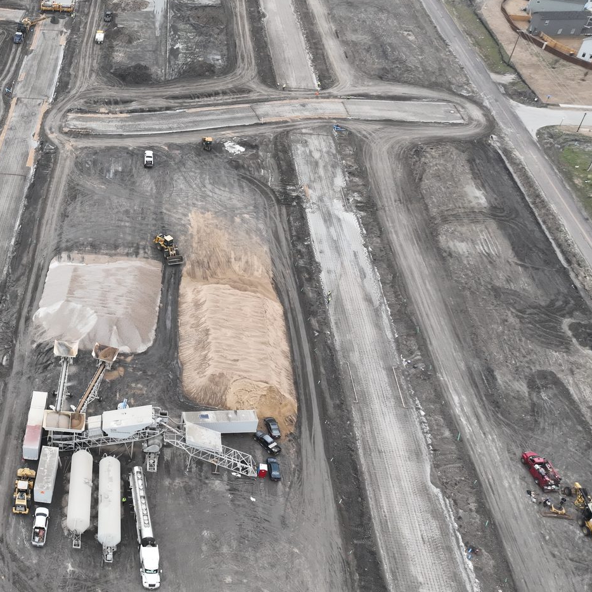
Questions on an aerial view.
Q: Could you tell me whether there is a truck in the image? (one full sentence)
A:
Yes, a truck appears in the view.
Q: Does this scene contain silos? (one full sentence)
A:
Yes, the picture does show a silo.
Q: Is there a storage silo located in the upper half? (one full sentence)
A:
No, there is no storage silo in the upper half.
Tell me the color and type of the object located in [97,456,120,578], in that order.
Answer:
white silo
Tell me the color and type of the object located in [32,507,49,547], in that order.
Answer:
white vehicle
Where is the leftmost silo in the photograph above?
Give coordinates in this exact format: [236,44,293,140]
[67,449,93,560]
